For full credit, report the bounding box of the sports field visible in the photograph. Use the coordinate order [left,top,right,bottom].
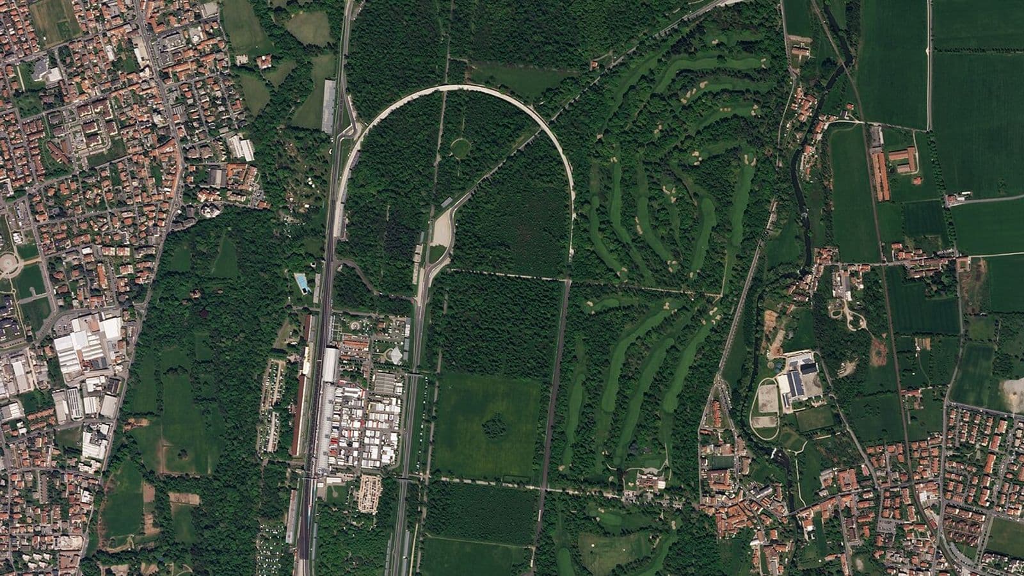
[31,0,82,47]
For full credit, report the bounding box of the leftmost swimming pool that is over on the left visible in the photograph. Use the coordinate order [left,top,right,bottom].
[294,273,312,295]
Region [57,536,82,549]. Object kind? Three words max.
building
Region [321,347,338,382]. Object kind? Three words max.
building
